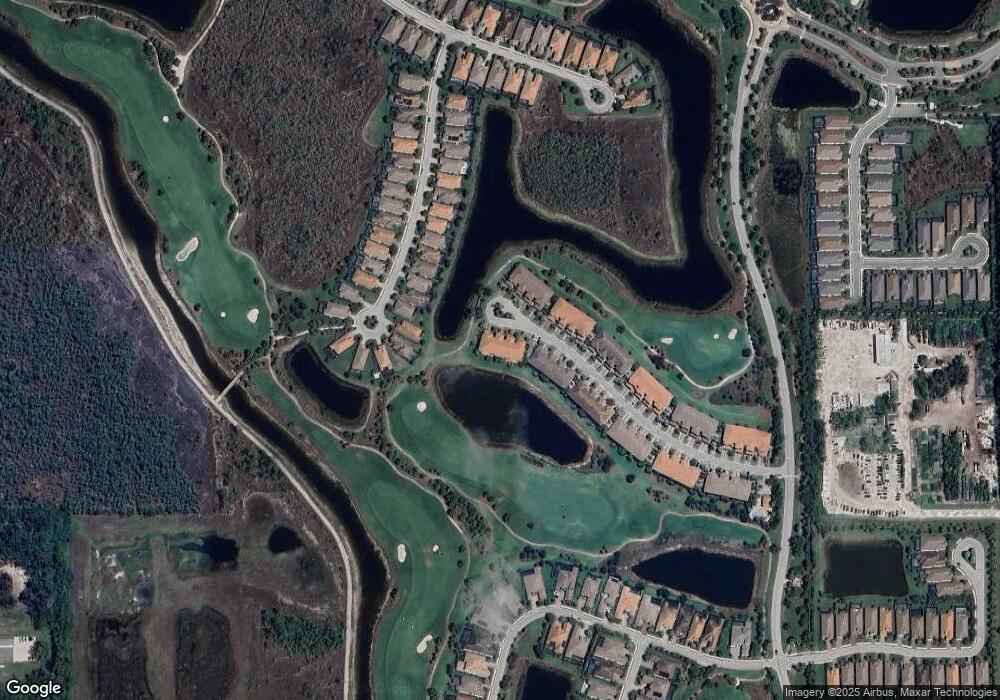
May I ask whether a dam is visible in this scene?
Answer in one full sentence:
No, no dam can be seen from above.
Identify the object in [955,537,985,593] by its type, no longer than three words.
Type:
roundabout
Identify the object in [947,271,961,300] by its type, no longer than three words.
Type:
house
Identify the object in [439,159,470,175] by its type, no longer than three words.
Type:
house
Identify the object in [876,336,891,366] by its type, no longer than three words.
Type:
building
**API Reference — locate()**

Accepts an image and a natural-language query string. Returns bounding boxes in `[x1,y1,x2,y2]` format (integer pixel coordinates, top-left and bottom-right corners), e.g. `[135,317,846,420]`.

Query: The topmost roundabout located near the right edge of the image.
[952,234,989,268]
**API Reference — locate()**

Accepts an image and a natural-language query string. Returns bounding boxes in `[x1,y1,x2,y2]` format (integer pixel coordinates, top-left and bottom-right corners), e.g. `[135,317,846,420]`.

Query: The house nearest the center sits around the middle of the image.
[479,330,526,363]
